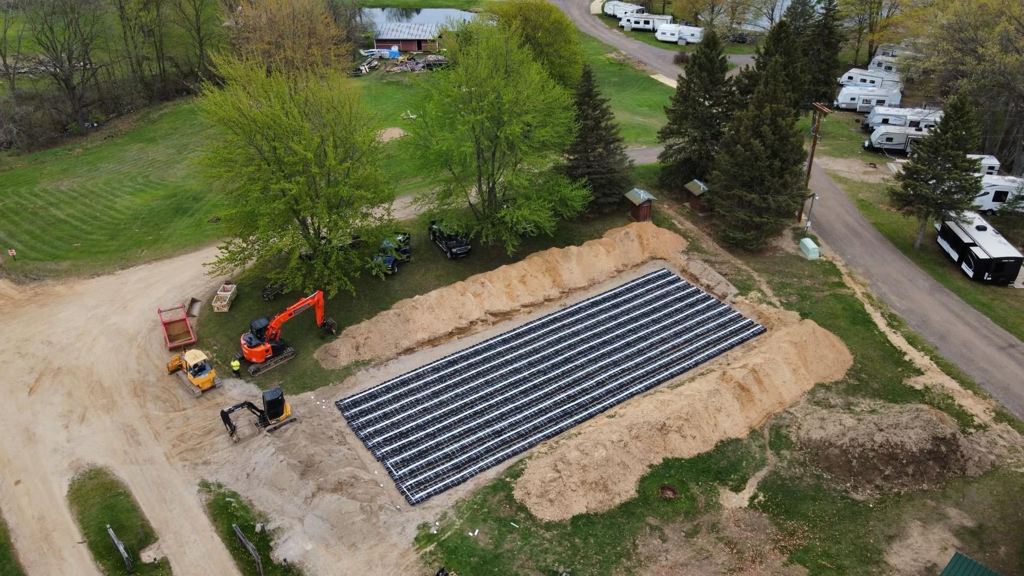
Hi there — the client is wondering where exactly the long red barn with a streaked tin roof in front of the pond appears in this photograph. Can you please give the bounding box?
[372,21,444,53]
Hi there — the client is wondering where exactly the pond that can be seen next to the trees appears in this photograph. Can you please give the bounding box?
[361,9,495,48]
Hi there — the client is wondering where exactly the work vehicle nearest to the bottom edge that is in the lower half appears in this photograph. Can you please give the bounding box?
[217,389,299,441]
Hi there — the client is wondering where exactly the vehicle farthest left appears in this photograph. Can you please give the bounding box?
[163,341,220,395]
